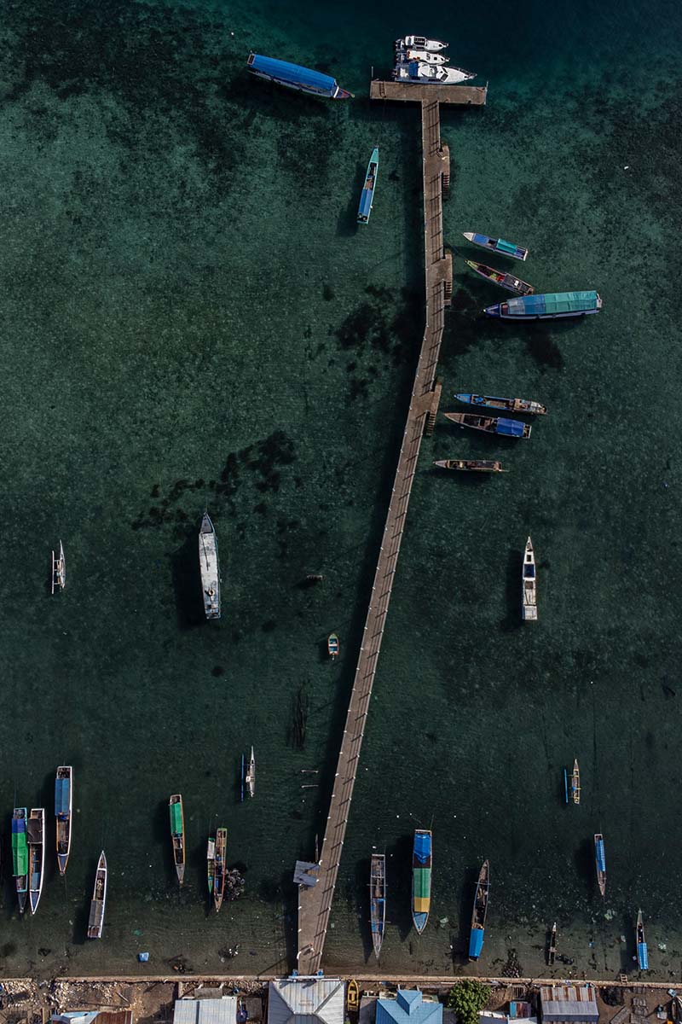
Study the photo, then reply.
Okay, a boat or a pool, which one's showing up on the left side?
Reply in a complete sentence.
What appears on the left side is a boat.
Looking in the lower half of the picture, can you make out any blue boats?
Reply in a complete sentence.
Yes, a blue boat appears in the lower half of the picture.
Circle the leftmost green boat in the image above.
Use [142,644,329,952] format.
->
[11,774,29,911]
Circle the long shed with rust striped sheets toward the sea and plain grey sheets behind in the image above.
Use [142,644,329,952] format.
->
[540,986,599,1024]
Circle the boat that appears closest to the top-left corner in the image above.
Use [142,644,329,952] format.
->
[245,55,354,102]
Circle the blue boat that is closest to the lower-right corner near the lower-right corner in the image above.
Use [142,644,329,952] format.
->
[637,910,650,971]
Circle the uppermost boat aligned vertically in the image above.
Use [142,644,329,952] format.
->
[357,148,378,225]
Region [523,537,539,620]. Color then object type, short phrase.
white boat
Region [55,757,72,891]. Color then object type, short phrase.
blue boat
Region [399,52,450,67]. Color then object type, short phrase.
white boat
